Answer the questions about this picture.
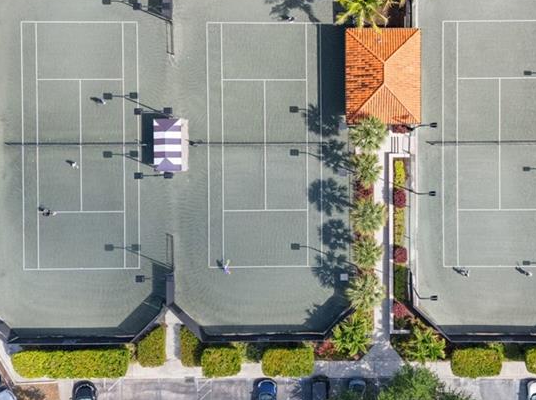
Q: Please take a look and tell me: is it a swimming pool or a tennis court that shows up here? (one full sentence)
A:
Looking from above, you can make out a tennis court.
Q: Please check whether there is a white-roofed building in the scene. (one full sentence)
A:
No, there is no white-roofed building in the image.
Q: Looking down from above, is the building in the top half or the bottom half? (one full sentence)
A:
Seen from above, the building lies in the top half of the view.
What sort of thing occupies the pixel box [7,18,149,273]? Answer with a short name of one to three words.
tennis court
